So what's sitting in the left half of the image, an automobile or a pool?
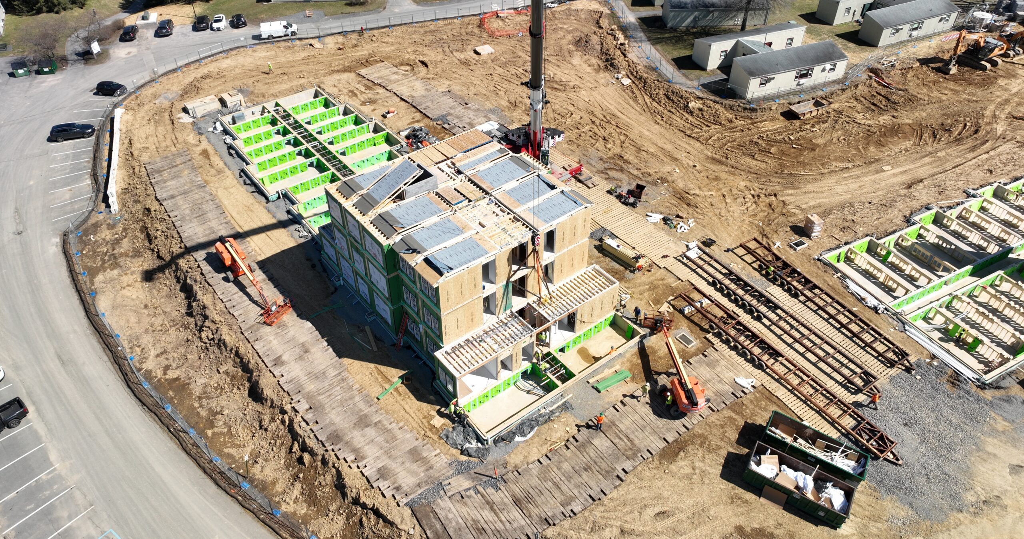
automobile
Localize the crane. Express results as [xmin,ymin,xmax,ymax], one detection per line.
[466,0,595,233]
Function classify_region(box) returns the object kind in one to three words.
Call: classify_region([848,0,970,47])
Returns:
house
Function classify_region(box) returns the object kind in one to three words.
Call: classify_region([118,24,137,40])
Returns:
car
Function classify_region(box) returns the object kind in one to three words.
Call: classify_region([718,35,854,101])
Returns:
house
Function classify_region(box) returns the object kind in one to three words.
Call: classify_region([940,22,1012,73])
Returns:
work vehicle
